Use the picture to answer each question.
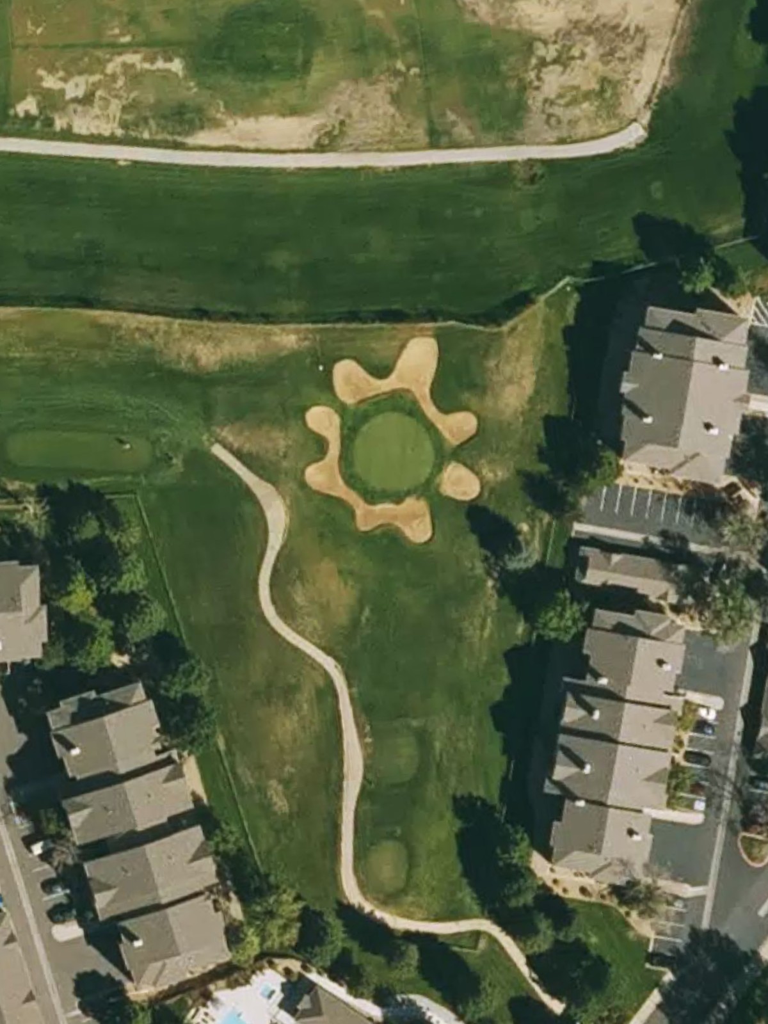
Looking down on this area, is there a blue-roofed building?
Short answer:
No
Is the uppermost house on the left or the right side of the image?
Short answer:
right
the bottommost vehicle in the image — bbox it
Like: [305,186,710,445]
[647,953,677,968]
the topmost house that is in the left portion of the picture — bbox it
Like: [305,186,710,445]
[0,561,46,663]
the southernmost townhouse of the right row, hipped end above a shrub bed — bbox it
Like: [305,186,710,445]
[551,800,655,885]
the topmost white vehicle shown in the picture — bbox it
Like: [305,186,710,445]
[689,705,718,721]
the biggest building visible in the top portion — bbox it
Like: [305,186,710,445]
[619,306,753,485]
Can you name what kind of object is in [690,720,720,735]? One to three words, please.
car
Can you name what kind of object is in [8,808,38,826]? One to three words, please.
car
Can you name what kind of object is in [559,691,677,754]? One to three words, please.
house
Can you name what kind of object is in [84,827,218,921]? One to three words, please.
house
